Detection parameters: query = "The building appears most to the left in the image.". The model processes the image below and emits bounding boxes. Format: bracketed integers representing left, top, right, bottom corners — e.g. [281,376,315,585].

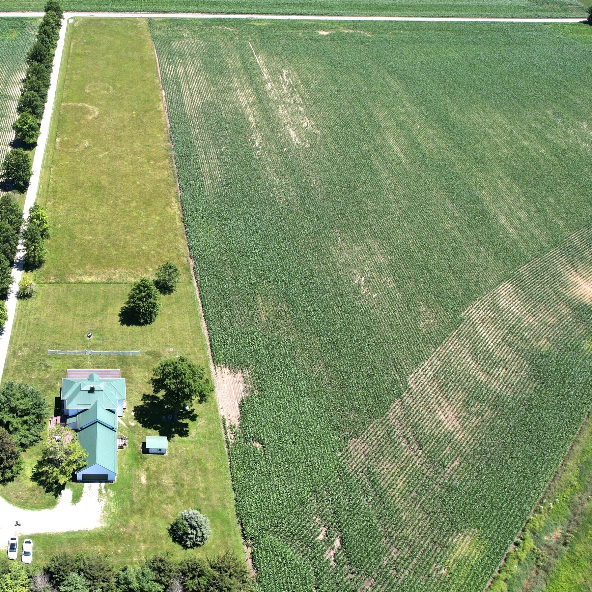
[61,369,126,481]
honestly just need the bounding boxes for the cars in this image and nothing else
[20,538,33,566]
[6,534,18,561]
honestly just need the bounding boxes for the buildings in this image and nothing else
[61,369,126,481]
[146,436,168,453]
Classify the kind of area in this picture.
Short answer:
farmland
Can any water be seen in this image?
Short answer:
No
